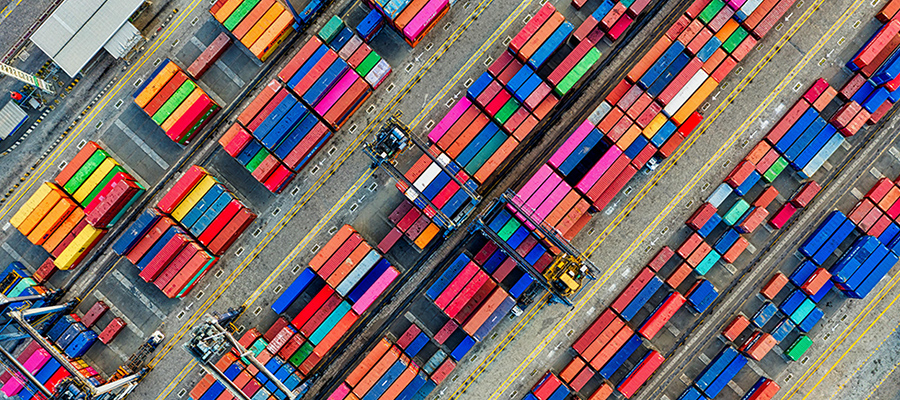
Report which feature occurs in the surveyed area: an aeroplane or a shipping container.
shipping container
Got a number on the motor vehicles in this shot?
three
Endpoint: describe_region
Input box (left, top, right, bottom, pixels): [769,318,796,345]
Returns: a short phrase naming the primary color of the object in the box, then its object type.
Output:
blue shipping container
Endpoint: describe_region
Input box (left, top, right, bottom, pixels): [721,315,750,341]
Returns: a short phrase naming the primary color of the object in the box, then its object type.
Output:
red shipping container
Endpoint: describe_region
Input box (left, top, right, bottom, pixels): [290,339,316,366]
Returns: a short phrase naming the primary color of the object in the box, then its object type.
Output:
green shipping container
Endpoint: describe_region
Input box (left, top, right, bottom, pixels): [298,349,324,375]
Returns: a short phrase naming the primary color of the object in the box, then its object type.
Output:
red shipping container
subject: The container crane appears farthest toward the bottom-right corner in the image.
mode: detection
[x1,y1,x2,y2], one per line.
[463,185,598,307]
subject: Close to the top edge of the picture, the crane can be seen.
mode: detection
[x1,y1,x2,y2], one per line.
[279,0,335,42]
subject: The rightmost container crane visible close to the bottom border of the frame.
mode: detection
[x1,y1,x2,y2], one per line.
[178,297,328,400]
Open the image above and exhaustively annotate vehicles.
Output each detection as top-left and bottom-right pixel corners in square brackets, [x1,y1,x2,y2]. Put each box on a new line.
[510,264,557,317]
[120,330,168,379]
[642,149,663,172]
